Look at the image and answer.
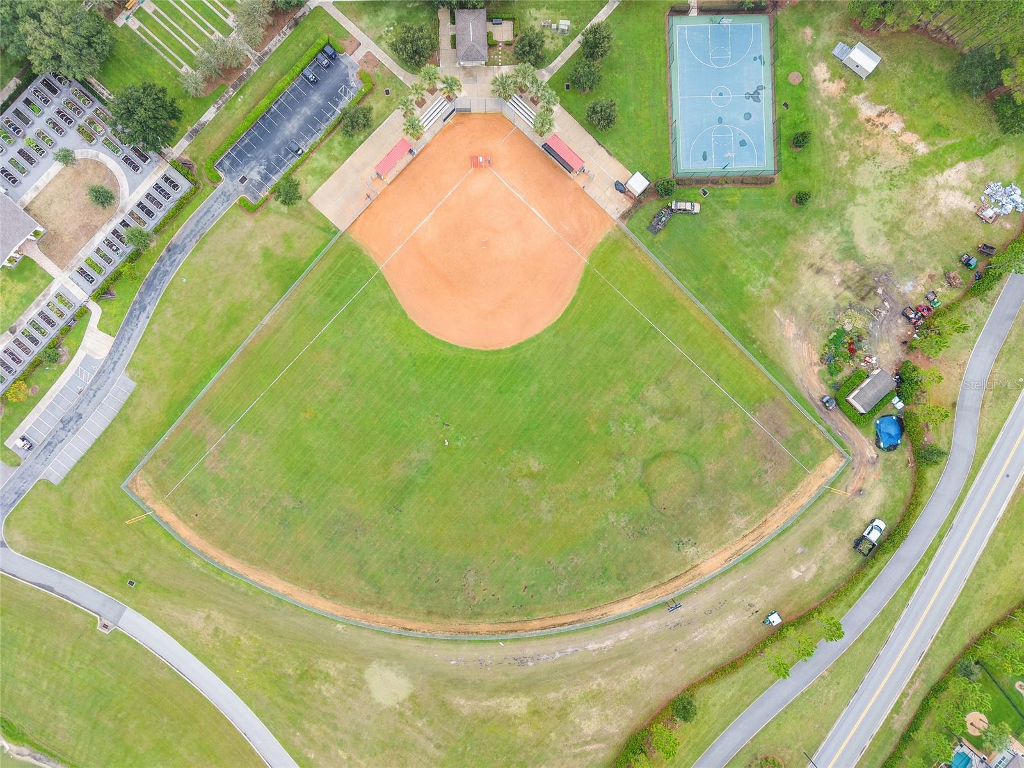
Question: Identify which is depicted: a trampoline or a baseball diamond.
baseball diamond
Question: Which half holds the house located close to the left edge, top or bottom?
top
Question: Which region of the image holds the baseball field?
center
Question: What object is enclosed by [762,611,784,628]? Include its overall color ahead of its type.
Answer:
white work vehicle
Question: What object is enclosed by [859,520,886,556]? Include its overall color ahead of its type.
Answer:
white truck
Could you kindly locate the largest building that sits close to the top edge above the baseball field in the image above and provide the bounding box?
[455,8,488,67]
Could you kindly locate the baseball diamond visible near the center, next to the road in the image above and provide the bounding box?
[130,114,845,636]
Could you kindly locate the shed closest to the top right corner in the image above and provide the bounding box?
[843,42,880,77]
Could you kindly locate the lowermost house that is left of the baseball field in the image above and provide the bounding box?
[0,192,47,284]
